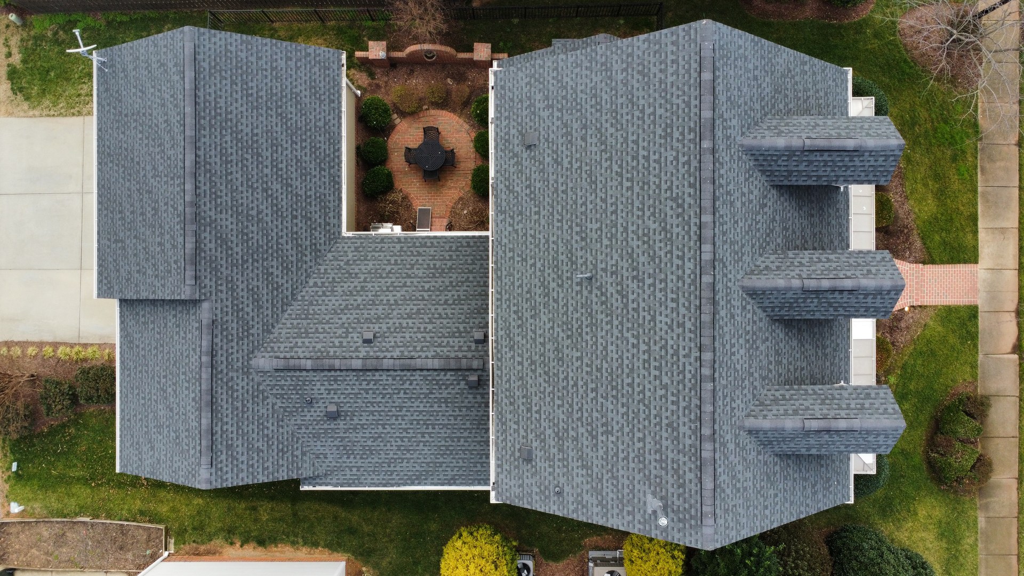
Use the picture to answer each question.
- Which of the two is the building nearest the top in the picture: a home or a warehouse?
home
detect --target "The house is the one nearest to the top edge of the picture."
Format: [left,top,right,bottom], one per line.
[93,21,905,550]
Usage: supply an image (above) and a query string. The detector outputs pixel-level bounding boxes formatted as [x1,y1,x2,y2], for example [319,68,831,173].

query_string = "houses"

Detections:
[140,550,349,576]
[93,21,905,550]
